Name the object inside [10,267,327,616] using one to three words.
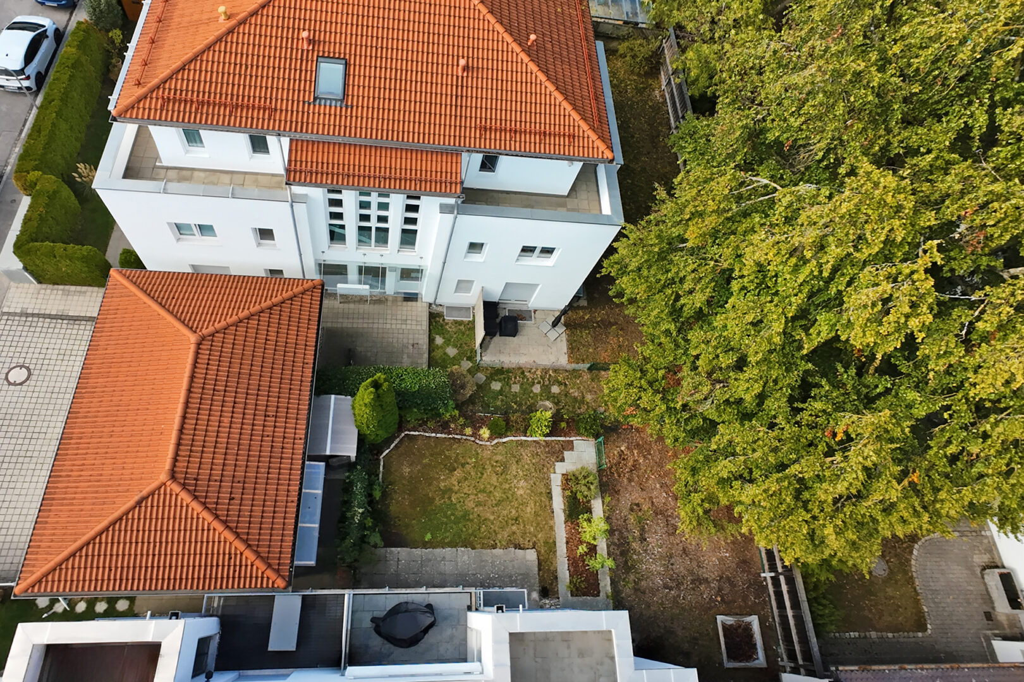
building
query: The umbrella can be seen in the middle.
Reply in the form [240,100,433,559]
[538,301,571,342]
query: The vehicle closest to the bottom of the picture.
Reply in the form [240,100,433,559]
[0,8,63,96]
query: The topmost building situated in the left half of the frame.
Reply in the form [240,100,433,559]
[95,0,622,313]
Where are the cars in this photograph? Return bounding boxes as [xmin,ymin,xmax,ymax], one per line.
[30,0,84,9]
[0,8,63,96]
